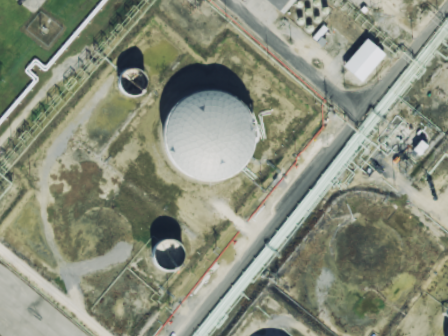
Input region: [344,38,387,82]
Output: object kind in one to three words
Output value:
barn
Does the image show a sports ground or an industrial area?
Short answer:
industrial area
